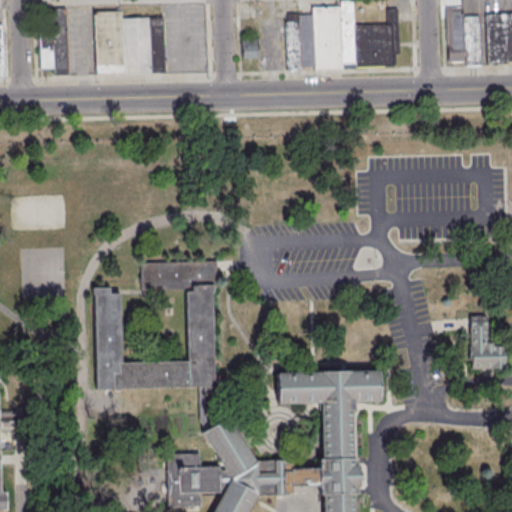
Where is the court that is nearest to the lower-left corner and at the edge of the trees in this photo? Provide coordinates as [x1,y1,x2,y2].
[21,248,64,299]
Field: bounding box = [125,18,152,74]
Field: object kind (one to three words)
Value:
building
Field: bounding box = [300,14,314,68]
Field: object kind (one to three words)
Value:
building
